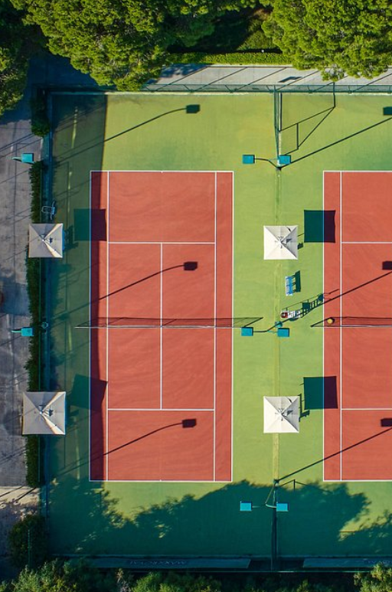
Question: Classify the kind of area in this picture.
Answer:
sports ground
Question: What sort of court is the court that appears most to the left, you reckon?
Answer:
tennis court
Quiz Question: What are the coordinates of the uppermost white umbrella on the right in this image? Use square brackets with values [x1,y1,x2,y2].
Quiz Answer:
[264,225,299,260]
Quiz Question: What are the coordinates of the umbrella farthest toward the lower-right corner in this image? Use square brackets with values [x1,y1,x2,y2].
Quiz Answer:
[264,395,301,432]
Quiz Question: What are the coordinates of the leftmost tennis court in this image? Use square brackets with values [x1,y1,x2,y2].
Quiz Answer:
[51,92,276,555]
